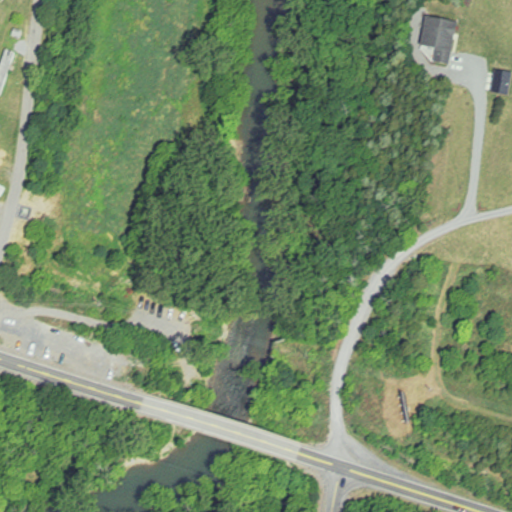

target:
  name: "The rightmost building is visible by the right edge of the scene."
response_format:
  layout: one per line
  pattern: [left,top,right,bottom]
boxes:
[492,70,510,93]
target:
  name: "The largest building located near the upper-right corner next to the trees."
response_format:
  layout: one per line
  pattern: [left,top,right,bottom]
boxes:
[419,14,456,66]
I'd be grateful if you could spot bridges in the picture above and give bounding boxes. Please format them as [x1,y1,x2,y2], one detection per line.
[140,394,303,464]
